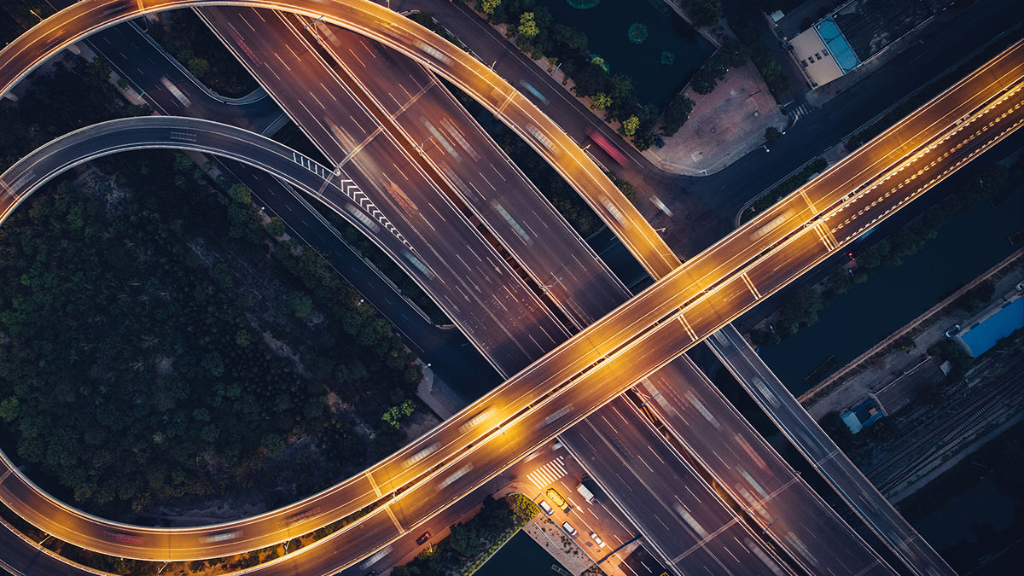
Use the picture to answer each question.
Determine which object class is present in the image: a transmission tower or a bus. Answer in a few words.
bus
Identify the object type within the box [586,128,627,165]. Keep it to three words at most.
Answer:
bus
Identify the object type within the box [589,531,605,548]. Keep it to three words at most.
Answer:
car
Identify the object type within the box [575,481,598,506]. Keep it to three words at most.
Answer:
truck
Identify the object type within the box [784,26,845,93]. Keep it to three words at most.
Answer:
building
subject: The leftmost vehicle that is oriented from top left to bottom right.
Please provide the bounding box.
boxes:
[168,84,186,101]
